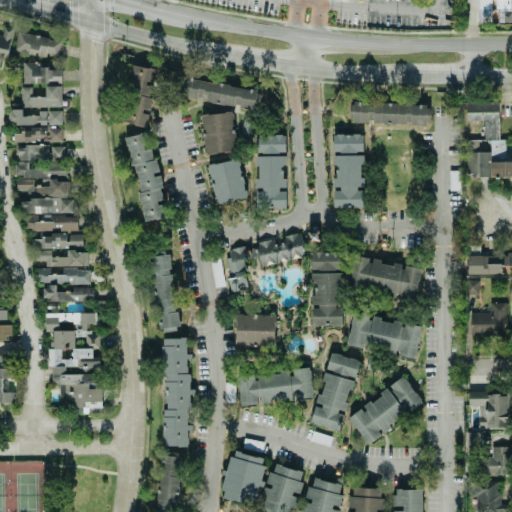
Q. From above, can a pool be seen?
Yes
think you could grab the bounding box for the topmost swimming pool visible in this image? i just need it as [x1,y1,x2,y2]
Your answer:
[258,268,304,308]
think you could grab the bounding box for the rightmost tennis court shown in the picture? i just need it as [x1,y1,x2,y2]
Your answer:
[12,462,44,512]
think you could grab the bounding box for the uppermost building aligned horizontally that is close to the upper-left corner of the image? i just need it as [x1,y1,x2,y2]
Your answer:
[17,33,62,58]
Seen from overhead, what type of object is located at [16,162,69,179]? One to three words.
house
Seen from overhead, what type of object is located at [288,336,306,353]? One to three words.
swimming pool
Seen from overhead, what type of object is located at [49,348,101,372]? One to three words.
house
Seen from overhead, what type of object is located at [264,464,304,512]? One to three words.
building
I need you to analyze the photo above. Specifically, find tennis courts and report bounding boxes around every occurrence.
[0,462,12,512]
[12,462,44,512]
